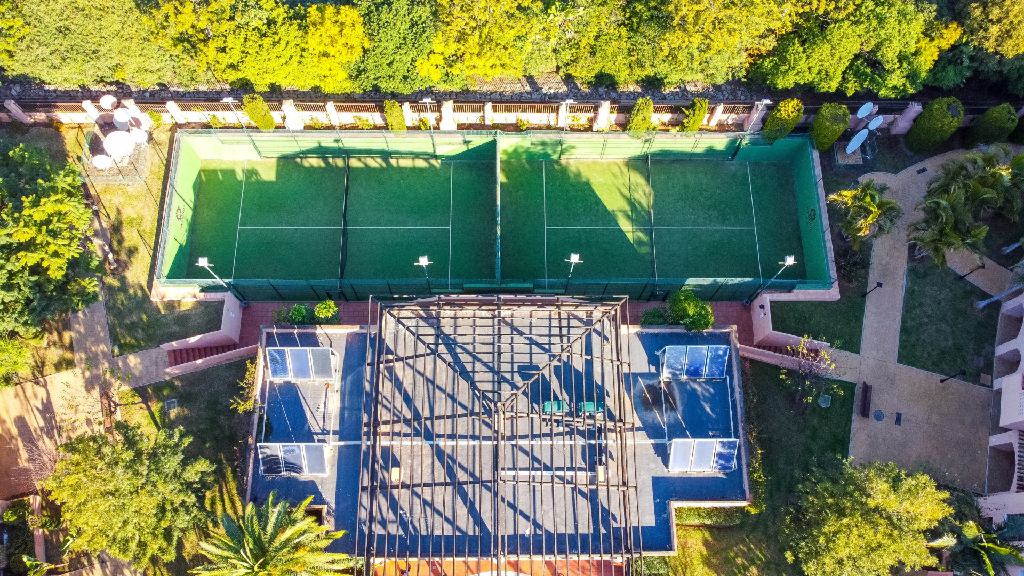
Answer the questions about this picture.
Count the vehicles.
0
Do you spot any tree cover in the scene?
Yes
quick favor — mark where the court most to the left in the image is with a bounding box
[154,128,497,303]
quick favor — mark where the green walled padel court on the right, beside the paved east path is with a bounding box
[500,130,837,302]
